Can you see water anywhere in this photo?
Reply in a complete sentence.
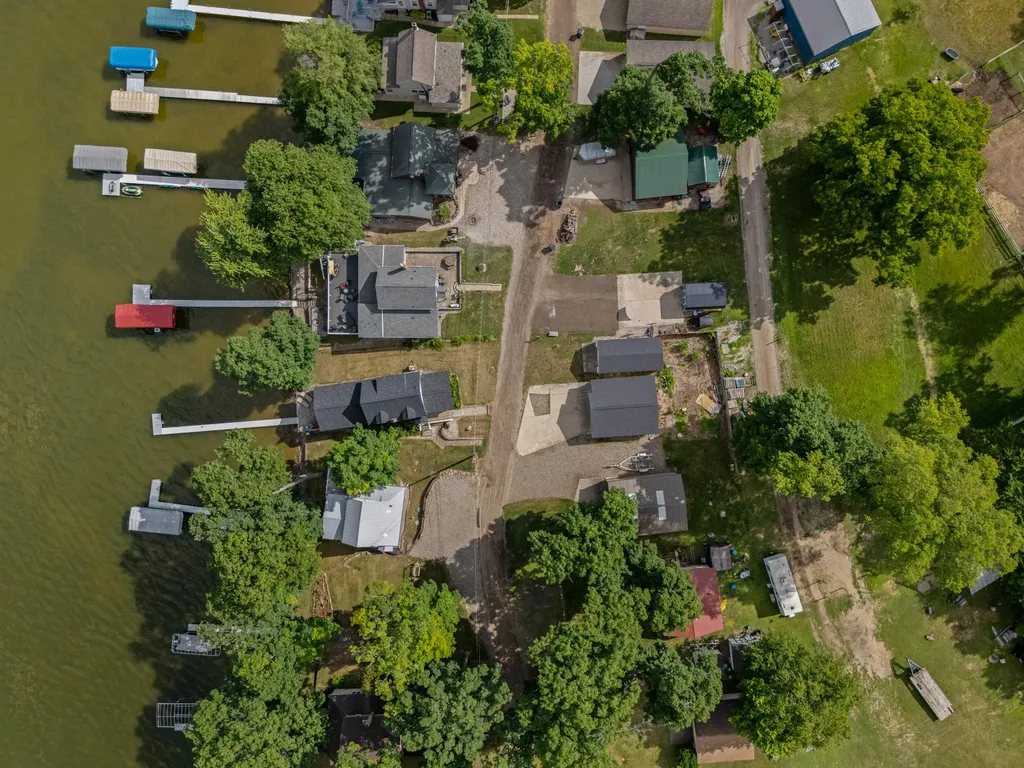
Yes, the picture does contain water.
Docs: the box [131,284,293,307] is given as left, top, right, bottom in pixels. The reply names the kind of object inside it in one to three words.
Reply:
pier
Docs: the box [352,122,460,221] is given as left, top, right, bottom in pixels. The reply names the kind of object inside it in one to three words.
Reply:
house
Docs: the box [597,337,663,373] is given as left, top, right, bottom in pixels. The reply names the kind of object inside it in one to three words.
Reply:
building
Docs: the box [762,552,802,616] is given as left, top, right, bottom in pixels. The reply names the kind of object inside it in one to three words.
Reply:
camper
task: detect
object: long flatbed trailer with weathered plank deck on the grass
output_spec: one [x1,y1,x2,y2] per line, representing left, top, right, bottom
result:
[904,655,955,720]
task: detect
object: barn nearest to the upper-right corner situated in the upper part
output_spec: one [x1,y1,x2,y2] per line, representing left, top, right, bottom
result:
[783,0,881,65]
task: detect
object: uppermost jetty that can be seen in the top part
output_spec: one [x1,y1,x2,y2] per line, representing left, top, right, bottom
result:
[170,0,330,24]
